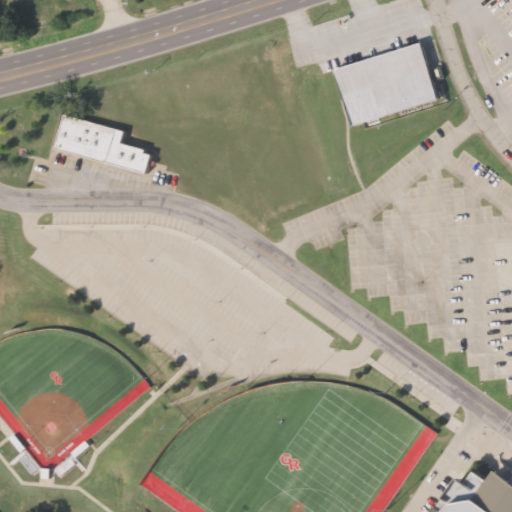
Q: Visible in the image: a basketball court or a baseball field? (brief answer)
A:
baseball field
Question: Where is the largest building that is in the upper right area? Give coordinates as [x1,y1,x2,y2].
[333,42,440,126]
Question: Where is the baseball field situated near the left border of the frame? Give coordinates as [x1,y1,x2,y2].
[0,328,152,466]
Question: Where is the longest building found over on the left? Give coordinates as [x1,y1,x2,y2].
[54,114,154,174]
